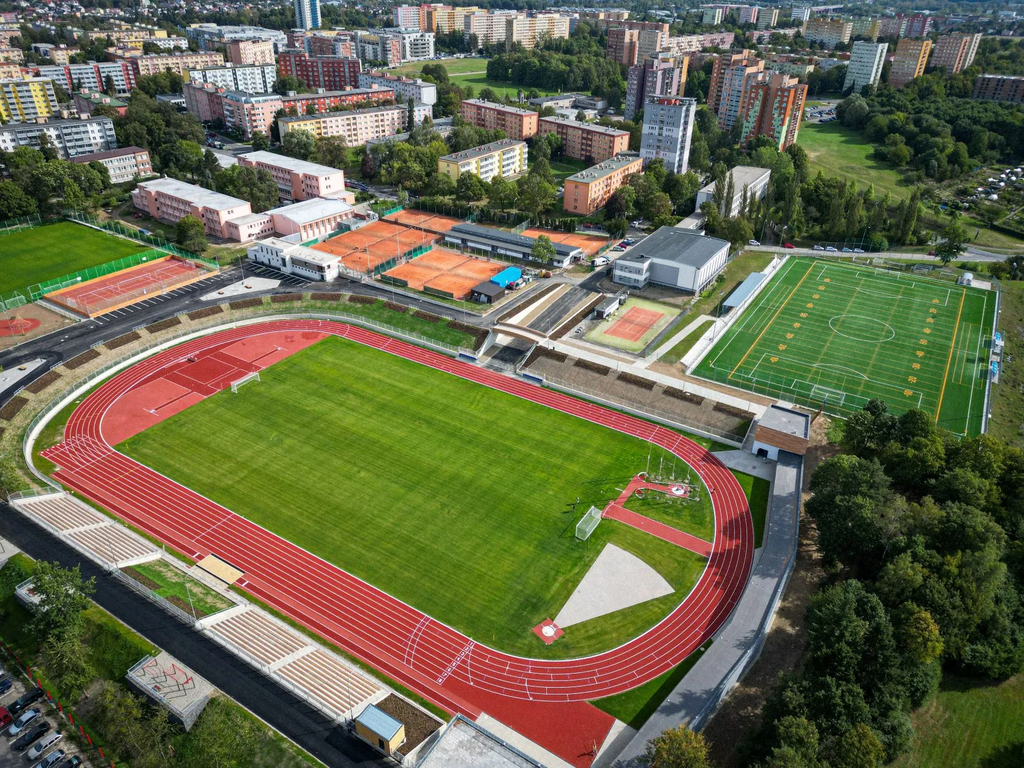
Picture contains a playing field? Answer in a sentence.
Yes, a playing field appears in the view.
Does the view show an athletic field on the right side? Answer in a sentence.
Yes, an athletic field is visible on the right side.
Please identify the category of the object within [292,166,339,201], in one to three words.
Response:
building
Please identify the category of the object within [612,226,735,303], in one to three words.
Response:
building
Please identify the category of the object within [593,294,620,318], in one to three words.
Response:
shed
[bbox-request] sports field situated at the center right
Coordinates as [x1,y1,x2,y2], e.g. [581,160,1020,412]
[688,256,997,438]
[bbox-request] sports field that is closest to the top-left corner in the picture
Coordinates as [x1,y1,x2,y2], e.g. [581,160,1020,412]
[0,209,150,308]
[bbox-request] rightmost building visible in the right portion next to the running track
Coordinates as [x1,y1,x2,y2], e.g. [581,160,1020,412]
[755,404,819,459]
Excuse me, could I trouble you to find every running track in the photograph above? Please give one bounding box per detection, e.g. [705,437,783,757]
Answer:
[37,319,754,768]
